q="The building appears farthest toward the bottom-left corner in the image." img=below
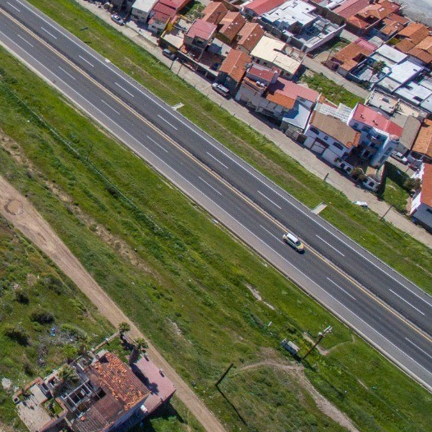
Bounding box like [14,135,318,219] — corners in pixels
[9,332,175,432]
